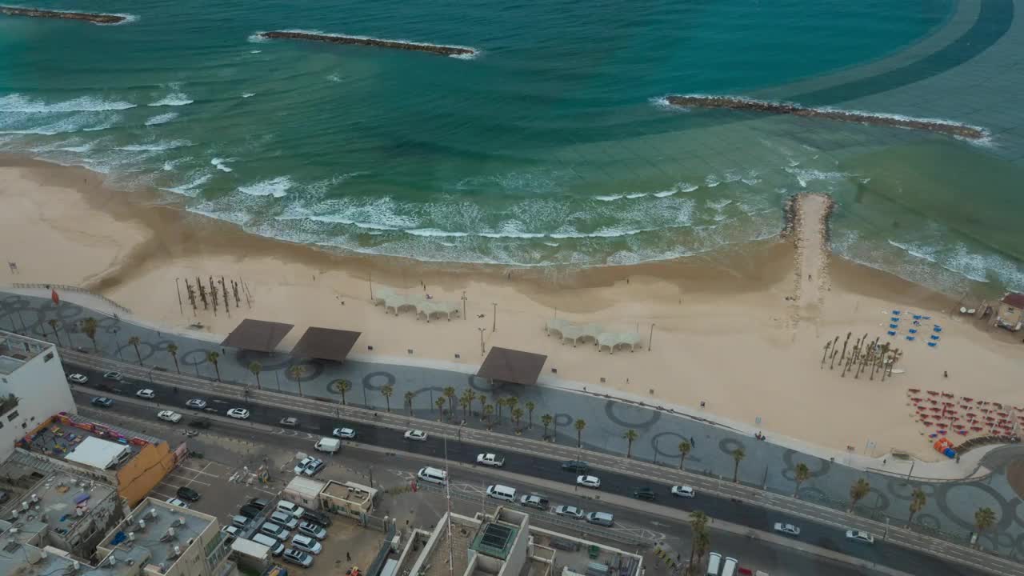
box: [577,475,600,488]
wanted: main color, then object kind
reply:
white vehicle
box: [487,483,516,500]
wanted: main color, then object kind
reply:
white vehicle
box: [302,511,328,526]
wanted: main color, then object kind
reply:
black car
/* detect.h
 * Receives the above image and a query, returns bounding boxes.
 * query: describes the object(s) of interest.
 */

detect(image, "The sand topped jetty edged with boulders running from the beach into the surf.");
[779,190,838,349]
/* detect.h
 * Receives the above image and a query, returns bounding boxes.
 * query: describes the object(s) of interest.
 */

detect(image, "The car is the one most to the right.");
[847,530,874,545]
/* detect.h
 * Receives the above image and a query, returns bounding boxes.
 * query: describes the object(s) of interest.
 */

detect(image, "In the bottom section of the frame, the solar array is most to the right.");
[482,526,514,553]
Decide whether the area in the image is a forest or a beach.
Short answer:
beach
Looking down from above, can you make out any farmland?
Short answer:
No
